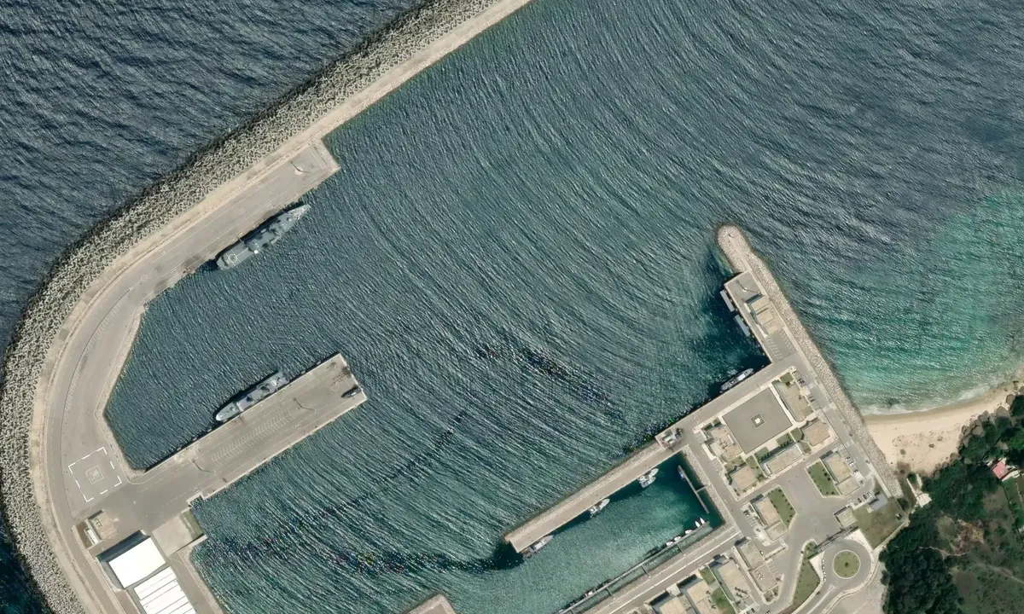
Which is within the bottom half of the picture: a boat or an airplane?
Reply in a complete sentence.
Looking within the bottom half of the picture, you will find a boat.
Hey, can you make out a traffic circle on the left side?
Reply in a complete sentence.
No, I can find no traffic circle on the left side.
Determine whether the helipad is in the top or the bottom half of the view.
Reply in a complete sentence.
The bottom half of the photo is where the helipad is.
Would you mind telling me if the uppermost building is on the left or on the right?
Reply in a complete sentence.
The uppermost building is on the right side of the image.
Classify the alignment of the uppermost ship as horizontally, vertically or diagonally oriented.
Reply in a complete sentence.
What the image shows is the uppermost ship lying diagonally.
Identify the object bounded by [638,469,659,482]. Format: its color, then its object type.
white boat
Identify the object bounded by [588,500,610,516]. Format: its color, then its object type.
white boat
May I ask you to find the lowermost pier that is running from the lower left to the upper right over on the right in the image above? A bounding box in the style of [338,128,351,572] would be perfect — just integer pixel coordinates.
[555,522,709,614]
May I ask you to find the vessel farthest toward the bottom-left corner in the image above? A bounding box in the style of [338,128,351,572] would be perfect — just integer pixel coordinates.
[215,373,287,419]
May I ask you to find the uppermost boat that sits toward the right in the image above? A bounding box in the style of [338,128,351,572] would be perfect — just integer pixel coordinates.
[720,370,754,391]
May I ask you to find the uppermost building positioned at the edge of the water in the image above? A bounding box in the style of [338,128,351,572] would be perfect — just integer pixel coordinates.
[743,295,785,338]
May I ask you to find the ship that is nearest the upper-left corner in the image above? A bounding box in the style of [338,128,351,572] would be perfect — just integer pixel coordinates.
[215,206,311,272]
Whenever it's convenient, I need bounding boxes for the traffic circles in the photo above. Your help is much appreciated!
[825,542,869,587]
